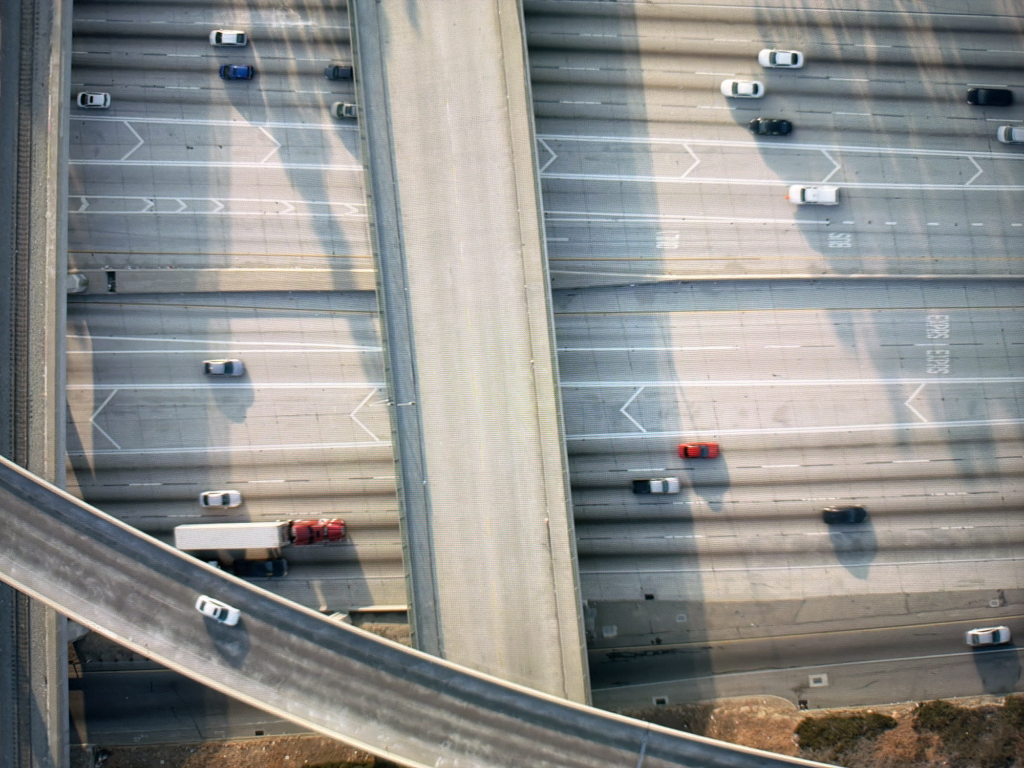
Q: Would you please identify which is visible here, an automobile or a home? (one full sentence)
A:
Of the two, only an automobile appears.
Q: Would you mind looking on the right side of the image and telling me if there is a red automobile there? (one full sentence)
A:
Yes, you'll find a red automobile on the right side of the image.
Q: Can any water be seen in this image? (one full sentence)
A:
No, there is no water in the image.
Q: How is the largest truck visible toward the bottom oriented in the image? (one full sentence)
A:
The largest truck visible toward the bottom has been laid out horizontally relative to the frame.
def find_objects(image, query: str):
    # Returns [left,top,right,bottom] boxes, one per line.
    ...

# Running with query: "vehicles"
[678,442,720,461]
[757,48,804,68]
[330,99,363,119]
[823,505,868,526]
[197,490,243,510]
[218,61,256,81]
[323,61,360,83]
[785,183,841,205]
[76,89,113,109]
[209,27,249,48]
[720,78,765,99]
[231,557,290,580]
[996,124,1024,144]
[175,513,350,549]
[201,359,246,378]
[966,85,1015,107]
[748,115,793,136]
[965,625,1011,646]
[631,476,680,497]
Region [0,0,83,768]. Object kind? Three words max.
bridge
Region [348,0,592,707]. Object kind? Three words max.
overpass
